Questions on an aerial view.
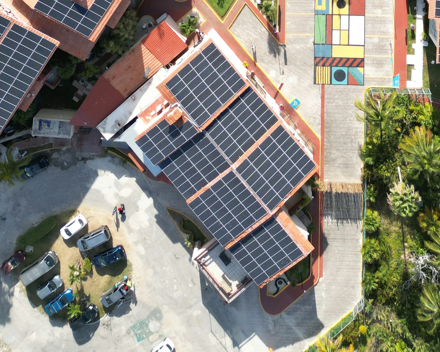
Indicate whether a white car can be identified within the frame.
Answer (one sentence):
Yes, a white car can be made out from above.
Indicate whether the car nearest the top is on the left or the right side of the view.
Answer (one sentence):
The car nearest the top is on the left side of the image.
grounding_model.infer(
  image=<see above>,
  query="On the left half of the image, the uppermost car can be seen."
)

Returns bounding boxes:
[20,154,52,181]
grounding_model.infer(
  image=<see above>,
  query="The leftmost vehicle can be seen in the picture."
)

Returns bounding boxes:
[0,249,28,277]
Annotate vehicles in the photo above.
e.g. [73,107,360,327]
[69,300,100,327]
[20,154,52,181]
[76,223,113,251]
[18,248,60,290]
[43,285,76,319]
[37,271,66,299]
[94,243,127,267]
[60,211,88,238]
[0,249,28,277]
[101,277,136,306]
